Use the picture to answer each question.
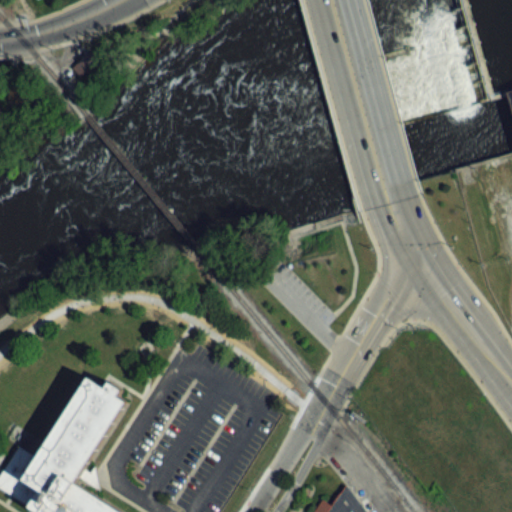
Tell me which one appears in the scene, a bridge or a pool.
bridge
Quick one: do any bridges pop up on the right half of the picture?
Yes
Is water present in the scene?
Yes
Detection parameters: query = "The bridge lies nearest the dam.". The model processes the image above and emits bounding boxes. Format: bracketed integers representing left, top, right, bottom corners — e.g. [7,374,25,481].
[298,0,424,232]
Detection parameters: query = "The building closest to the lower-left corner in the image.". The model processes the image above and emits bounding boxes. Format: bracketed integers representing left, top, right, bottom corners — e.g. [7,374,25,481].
[0,376,126,512]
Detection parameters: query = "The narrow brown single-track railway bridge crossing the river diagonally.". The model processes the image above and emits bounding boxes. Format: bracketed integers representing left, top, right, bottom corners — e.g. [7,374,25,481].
[83,114,203,258]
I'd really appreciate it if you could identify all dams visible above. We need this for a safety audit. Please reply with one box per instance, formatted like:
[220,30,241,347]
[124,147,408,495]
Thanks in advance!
[452,0,502,104]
